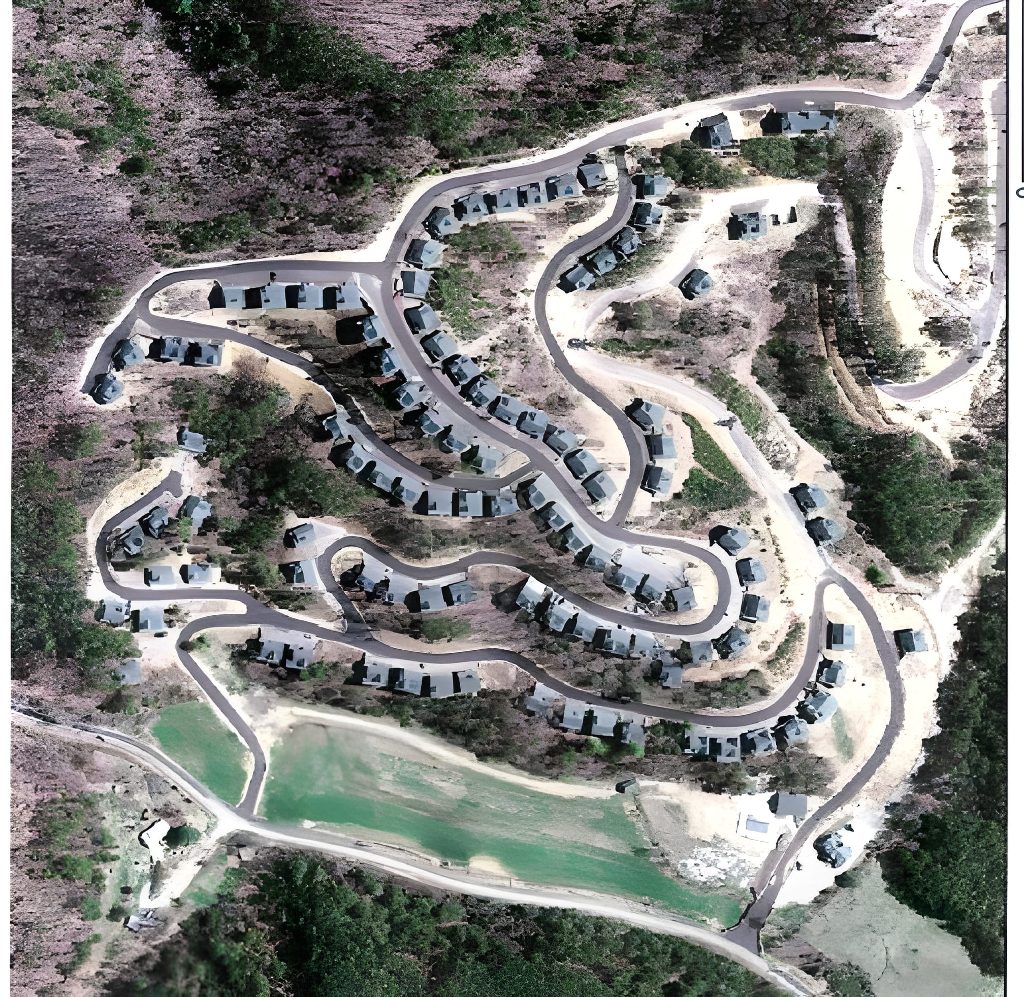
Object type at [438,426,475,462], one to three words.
house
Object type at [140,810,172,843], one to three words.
house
